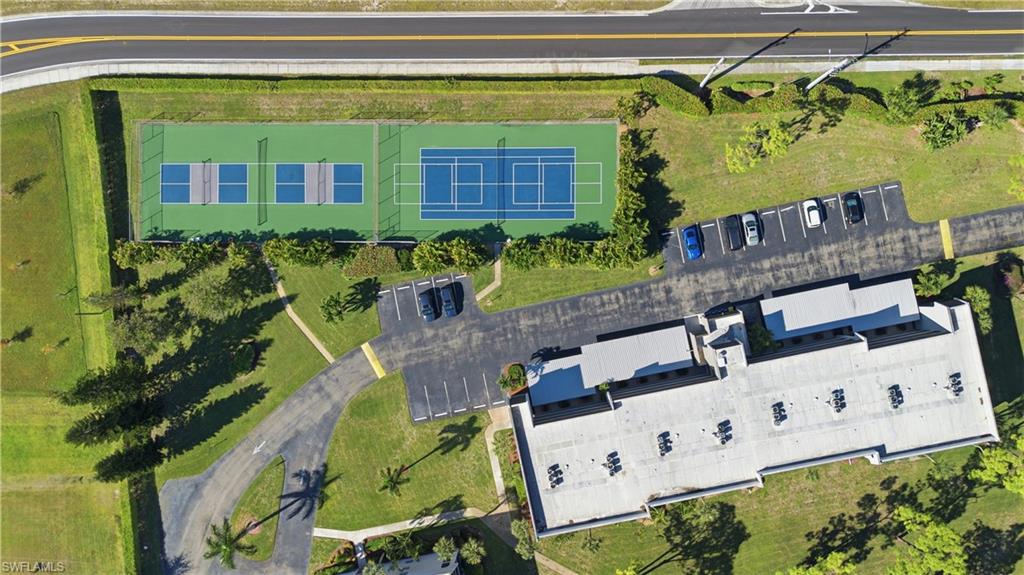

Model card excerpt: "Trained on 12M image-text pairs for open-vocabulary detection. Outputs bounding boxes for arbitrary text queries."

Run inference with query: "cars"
[724,215,744,252]
[419,292,435,322]
[440,287,456,318]
[742,214,760,246]
[684,227,701,260]
[843,192,862,224]
[803,199,821,229]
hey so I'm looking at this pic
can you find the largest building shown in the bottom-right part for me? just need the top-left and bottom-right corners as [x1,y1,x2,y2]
[511,303,1002,540]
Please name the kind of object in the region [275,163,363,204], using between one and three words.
sports court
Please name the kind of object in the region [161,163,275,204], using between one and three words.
sports court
